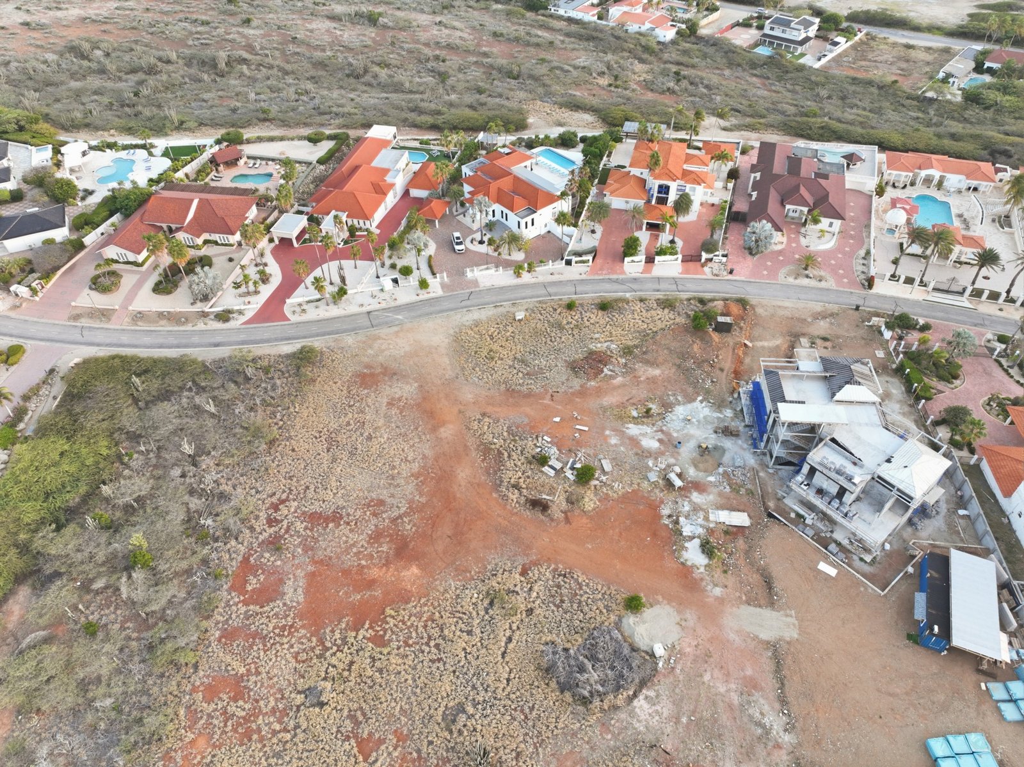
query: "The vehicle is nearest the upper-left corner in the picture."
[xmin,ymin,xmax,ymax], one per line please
[451,231,465,250]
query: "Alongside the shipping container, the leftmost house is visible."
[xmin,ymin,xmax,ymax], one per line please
[753,348,954,563]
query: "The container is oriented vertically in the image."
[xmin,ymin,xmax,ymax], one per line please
[913,551,951,650]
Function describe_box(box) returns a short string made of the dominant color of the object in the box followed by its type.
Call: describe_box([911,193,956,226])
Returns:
blue swimming pool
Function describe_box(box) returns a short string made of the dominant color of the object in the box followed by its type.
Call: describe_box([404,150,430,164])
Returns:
blue swimming pool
